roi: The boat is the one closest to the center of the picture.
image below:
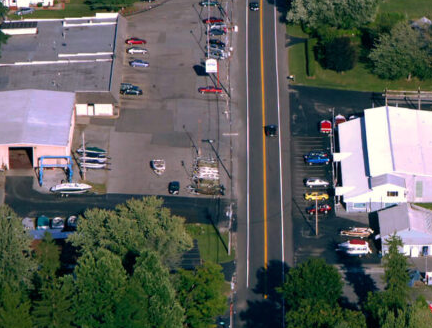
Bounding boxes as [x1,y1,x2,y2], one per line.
[154,157,167,173]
